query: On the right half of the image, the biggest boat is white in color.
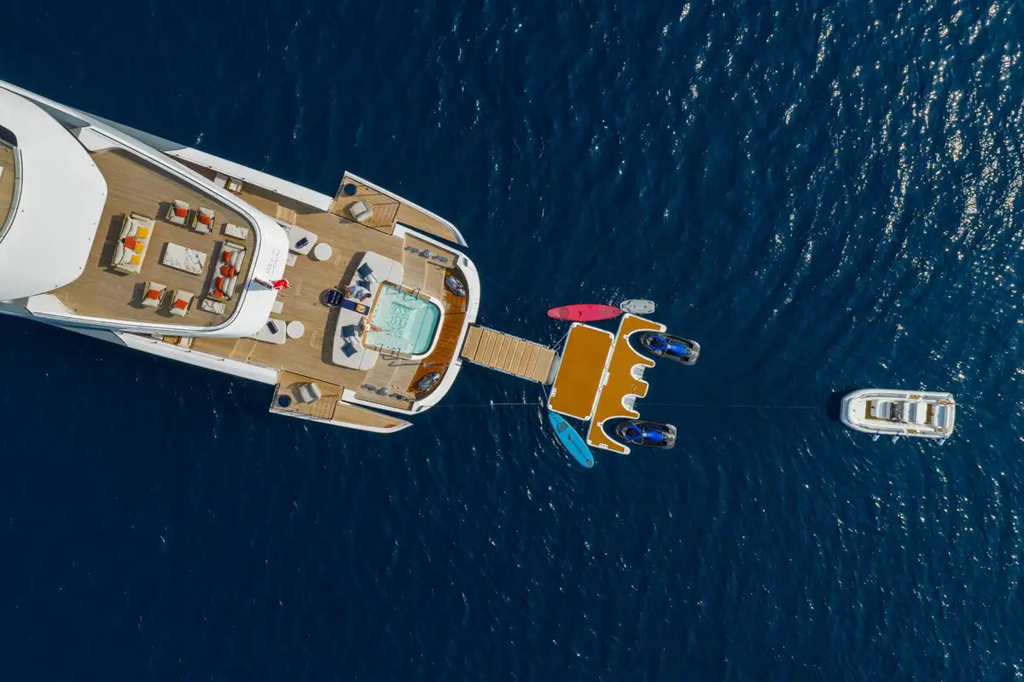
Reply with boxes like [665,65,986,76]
[842,387,967,438]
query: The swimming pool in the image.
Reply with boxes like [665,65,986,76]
[362,280,445,360]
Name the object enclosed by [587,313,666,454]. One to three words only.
pier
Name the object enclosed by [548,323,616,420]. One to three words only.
pier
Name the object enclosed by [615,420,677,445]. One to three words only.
boat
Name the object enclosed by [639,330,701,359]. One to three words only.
boat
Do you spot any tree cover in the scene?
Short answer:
No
